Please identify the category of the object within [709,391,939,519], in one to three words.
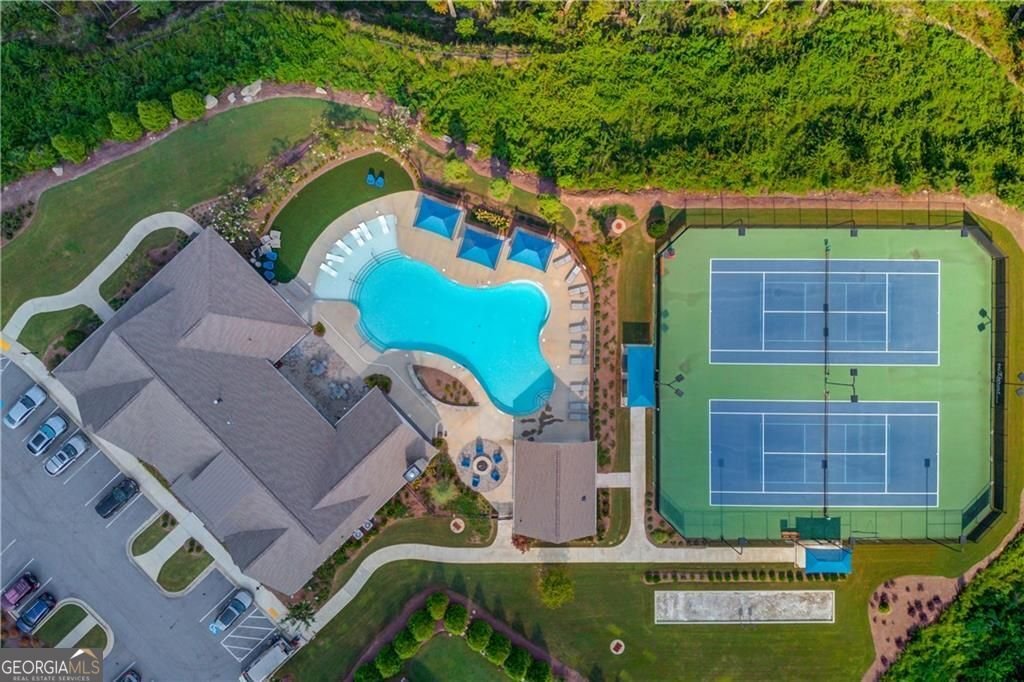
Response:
tennis court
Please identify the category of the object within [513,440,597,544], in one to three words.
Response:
building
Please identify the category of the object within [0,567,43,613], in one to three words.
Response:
car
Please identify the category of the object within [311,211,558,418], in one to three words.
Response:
swimming pool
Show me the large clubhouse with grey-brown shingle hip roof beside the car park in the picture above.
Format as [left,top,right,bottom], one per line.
[52,227,438,595]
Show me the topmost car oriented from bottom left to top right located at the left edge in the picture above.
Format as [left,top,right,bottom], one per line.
[4,384,50,427]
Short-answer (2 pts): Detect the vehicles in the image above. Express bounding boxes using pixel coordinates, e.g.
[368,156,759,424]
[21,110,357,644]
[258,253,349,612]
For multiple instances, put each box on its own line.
[45,432,90,476]
[234,631,301,682]
[96,474,141,519]
[26,411,71,455]
[0,567,43,613]
[16,589,60,635]
[210,588,254,632]
[4,384,50,427]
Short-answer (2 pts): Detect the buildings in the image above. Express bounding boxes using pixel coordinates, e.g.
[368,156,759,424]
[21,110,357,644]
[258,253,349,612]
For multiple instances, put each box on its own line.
[52,227,438,595]
[513,440,597,544]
